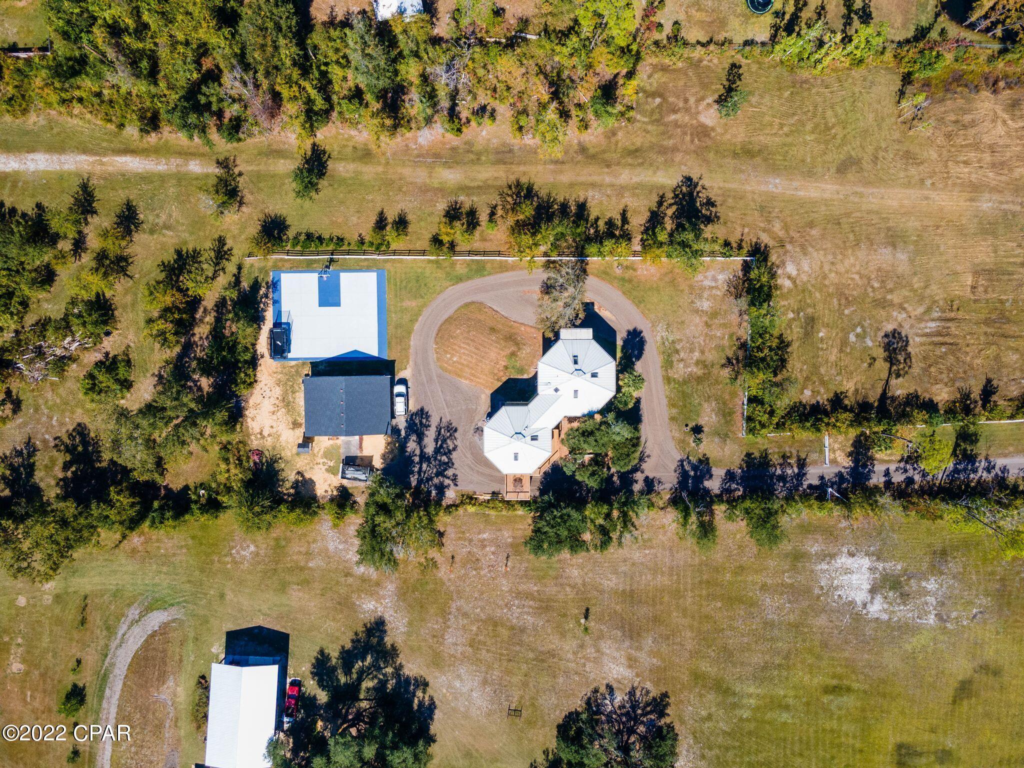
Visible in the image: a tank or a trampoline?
trampoline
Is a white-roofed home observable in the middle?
Yes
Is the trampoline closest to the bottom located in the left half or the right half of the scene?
left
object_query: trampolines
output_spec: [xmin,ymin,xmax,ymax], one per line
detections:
[745,0,776,15]
[265,327,290,359]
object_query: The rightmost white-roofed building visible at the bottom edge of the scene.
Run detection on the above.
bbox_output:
[205,658,282,768]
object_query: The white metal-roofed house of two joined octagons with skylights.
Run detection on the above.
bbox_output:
[483,328,616,475]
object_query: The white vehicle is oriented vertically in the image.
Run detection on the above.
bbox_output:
[394,385,408,417]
